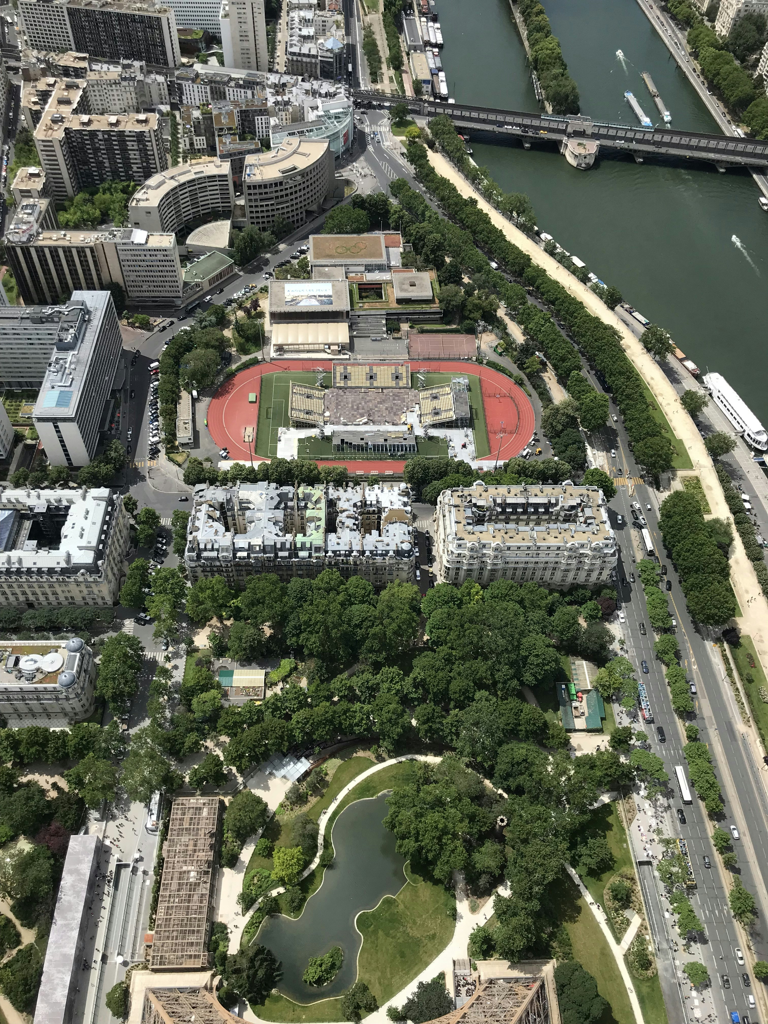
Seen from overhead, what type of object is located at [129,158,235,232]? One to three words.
building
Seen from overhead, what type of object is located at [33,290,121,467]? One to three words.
building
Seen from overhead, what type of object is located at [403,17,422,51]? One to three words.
shed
